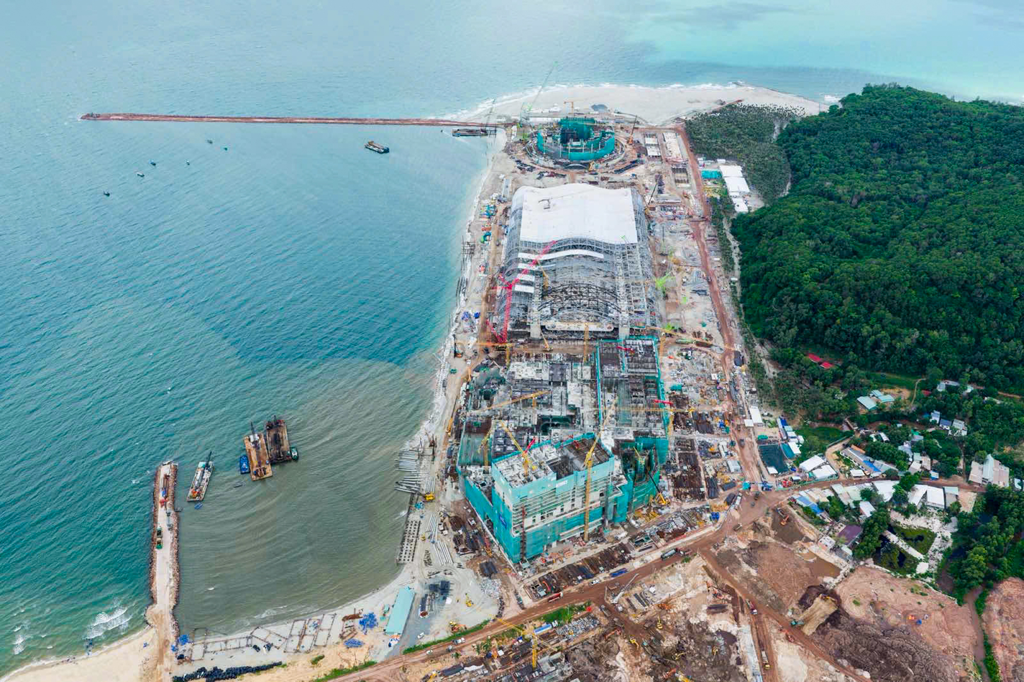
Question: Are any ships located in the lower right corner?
No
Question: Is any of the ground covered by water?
Yes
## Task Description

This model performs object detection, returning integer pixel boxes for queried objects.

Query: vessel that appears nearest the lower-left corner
[184,445,216,499]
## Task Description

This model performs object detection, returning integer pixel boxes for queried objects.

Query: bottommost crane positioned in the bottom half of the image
[495,616,561,670]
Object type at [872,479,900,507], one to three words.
building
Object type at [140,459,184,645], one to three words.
pier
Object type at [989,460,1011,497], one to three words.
house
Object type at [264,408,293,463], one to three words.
ship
